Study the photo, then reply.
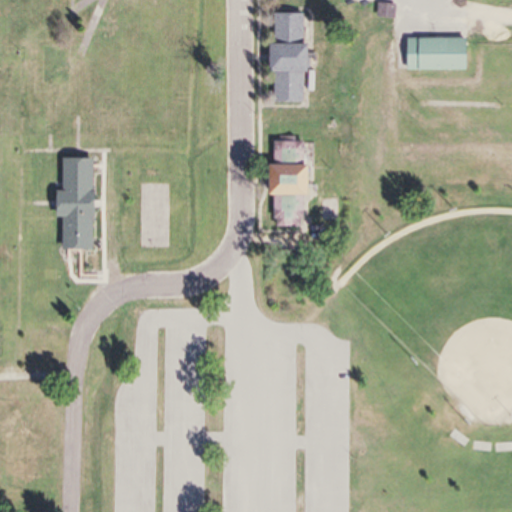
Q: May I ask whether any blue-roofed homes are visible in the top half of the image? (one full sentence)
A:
No, the scene shows no blue-roofed home in the top half of the image.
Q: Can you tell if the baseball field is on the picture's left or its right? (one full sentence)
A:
You can find the baseball field on the right side of the picture.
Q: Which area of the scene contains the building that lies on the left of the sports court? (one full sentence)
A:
The building that lies on the left of the sports court is located in the left region of the scene.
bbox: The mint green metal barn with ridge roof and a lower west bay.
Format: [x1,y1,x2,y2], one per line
[407,37,467,70]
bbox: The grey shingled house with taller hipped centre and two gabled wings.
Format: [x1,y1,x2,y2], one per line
[270,12,316,102]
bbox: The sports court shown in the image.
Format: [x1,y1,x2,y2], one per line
[141,182,169,246]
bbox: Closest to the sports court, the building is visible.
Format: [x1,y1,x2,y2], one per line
[56,157,95,248]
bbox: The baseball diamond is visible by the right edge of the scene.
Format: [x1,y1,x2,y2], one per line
[331,206,512,435]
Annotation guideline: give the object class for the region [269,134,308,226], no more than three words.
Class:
house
